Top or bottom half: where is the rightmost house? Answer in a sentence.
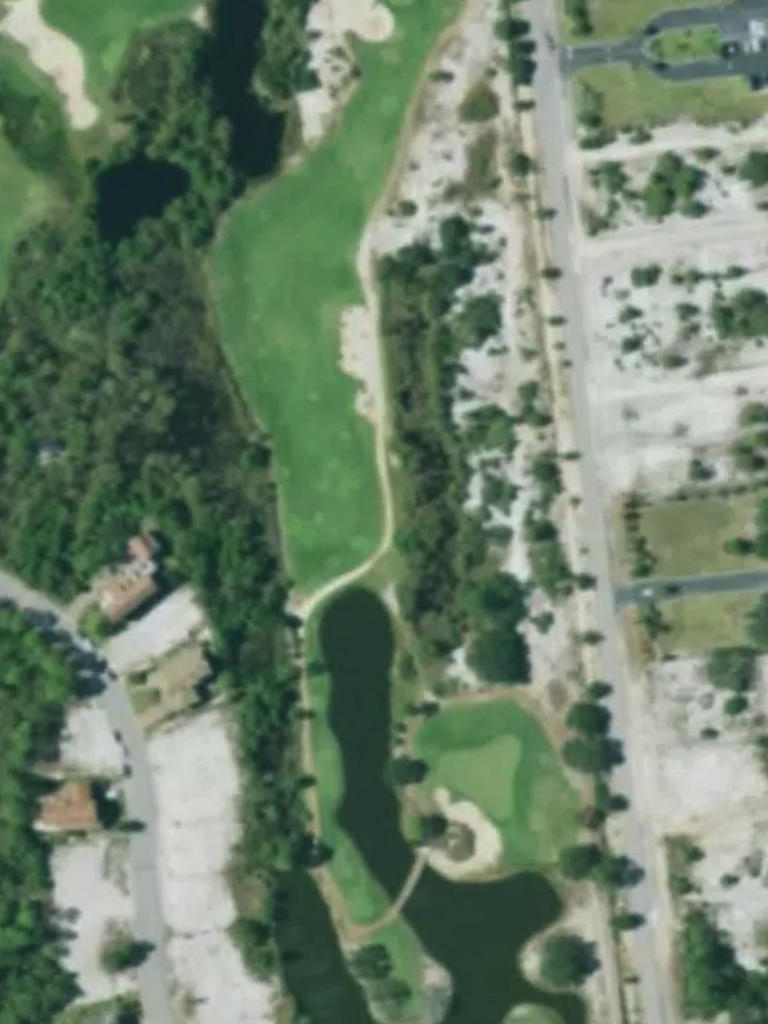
The rightmost house sits in the bottom half of the picture.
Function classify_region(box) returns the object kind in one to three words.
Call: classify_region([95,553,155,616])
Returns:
house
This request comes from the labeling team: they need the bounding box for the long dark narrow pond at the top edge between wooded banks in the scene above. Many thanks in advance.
[206,0,284,193]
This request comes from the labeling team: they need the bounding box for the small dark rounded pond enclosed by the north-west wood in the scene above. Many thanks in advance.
[96,159,189,242]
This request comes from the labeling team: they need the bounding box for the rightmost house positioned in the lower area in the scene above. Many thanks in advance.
[149,649,213,715]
